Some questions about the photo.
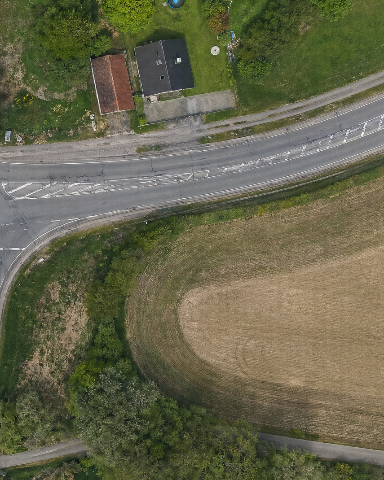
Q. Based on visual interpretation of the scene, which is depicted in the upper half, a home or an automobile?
home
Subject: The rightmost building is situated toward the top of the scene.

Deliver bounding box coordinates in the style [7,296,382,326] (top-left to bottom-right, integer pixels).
[134,39,195,98]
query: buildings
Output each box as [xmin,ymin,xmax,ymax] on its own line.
[91,54,135,116]
[134,39,195,98]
